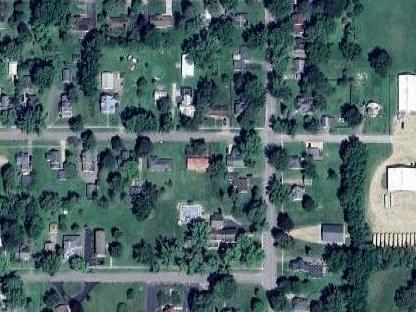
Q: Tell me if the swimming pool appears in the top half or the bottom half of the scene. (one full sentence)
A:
It is in the bottom half that the swimming pool appears.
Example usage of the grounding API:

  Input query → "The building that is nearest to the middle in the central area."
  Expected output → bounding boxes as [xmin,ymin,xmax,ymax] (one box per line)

[187,156,210,173]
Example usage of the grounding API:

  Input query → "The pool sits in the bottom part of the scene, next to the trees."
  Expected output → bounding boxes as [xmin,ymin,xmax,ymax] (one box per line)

[178,201,201,221]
